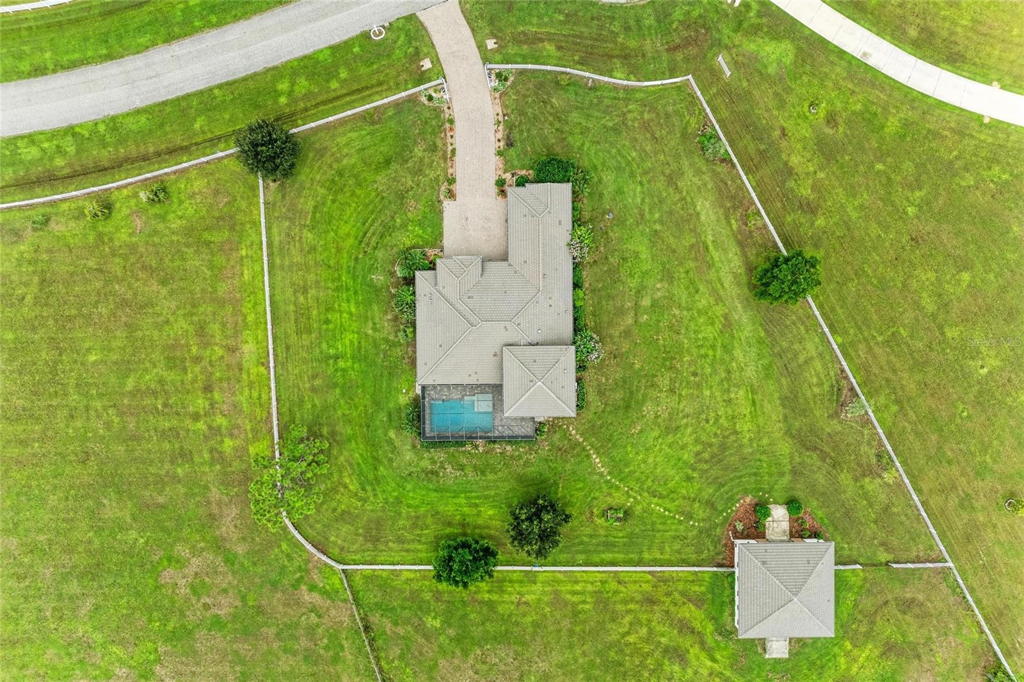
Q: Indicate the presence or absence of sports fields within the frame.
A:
No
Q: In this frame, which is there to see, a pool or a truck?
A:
pool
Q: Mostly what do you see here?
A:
grass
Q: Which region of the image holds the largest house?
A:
center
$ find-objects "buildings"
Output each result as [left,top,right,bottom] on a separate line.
[415,180,576,418]
[733,538,837,640]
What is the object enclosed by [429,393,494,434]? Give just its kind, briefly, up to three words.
swimming pool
